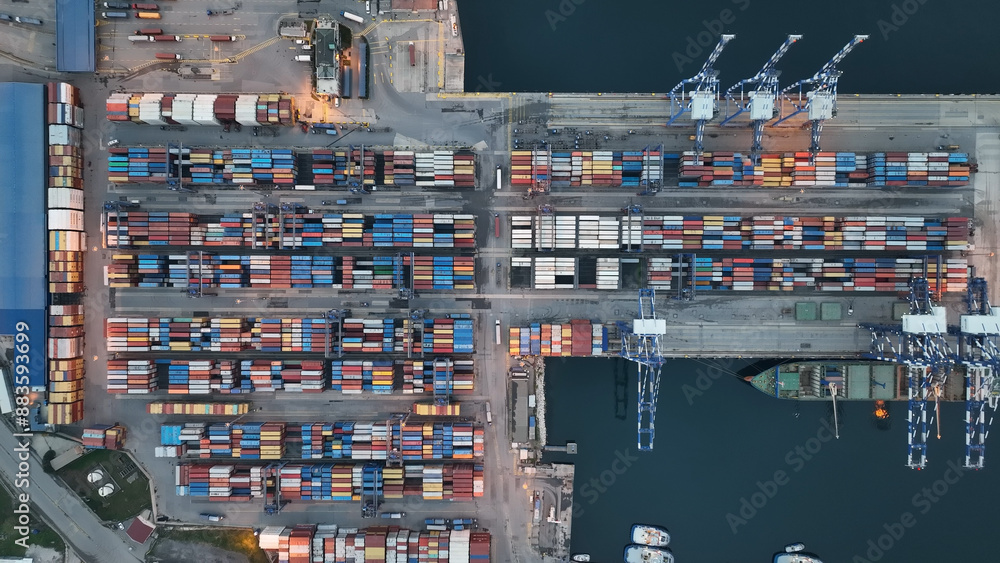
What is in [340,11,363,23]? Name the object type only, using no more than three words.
vehicle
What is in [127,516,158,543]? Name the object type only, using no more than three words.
house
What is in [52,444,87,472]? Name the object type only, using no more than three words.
shed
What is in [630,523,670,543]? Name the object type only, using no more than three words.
boat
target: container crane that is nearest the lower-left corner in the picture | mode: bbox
[265,456,302,512]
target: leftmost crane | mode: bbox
[103,203,148,250]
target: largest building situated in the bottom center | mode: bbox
[512,379,528,443]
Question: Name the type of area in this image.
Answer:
port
